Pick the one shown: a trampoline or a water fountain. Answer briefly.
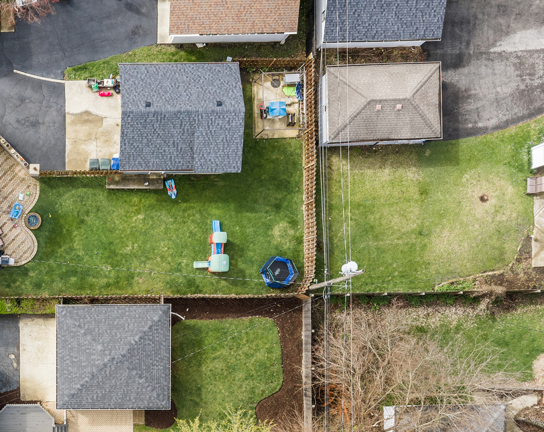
trampoline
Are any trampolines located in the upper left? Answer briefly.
No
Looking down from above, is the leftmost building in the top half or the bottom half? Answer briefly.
bottom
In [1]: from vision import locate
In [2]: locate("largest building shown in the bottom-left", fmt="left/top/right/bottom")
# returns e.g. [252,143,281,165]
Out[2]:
[56,304,172,410]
